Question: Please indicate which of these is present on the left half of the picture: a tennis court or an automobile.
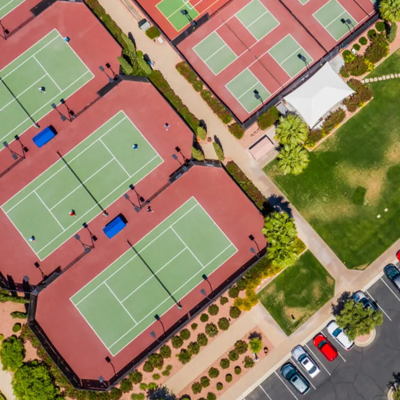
tennis court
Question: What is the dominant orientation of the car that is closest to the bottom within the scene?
on a diagonal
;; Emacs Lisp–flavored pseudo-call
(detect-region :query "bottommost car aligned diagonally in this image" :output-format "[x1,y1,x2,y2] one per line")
[281,361,310,396]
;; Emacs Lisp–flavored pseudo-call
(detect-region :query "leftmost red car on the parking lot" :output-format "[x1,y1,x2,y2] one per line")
[313,333,337,363]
